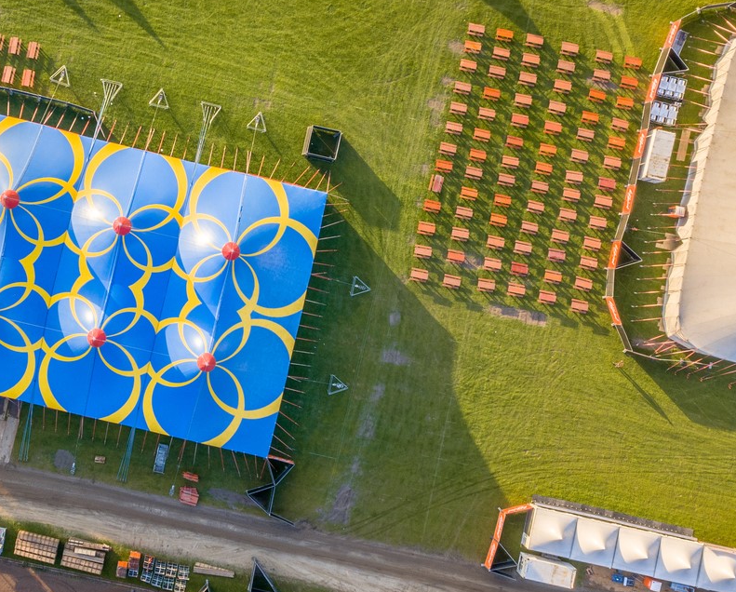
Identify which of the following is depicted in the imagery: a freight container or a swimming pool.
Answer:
freight container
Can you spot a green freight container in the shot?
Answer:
No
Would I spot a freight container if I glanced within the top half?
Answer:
Yes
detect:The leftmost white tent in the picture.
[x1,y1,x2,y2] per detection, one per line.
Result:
[519,487,579,559]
